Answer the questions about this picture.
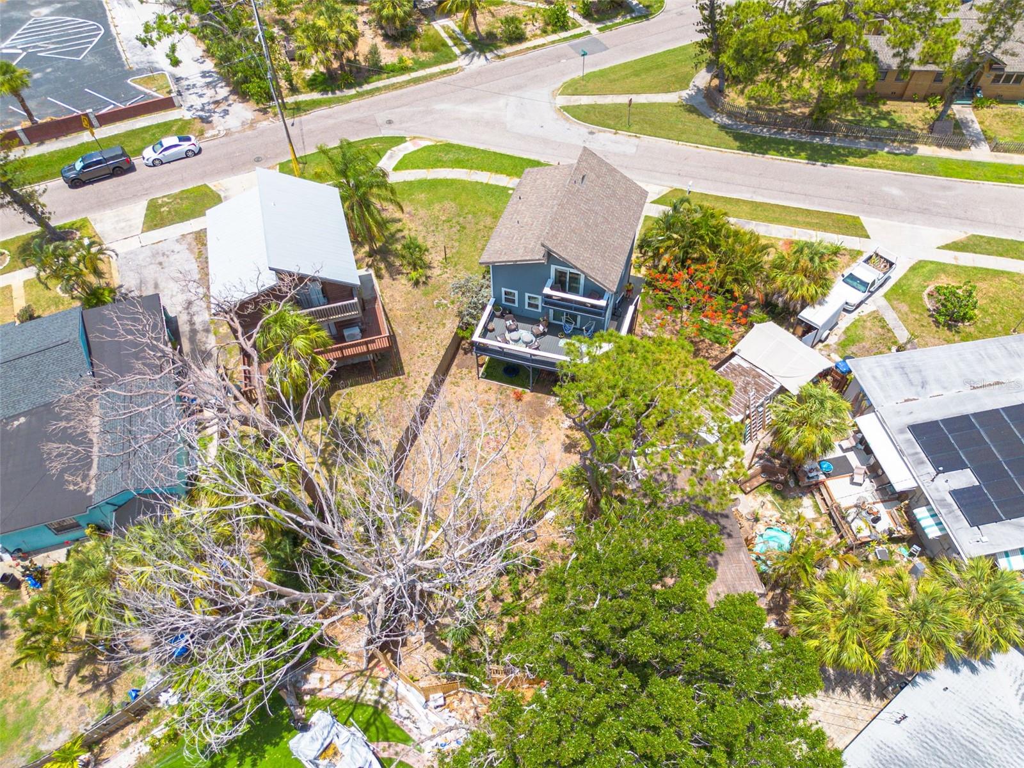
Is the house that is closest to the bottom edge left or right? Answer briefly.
right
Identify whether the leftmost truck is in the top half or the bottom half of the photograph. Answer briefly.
top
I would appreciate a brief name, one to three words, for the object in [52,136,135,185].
truck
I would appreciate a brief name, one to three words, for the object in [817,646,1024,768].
house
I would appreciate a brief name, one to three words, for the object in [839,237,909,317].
truck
